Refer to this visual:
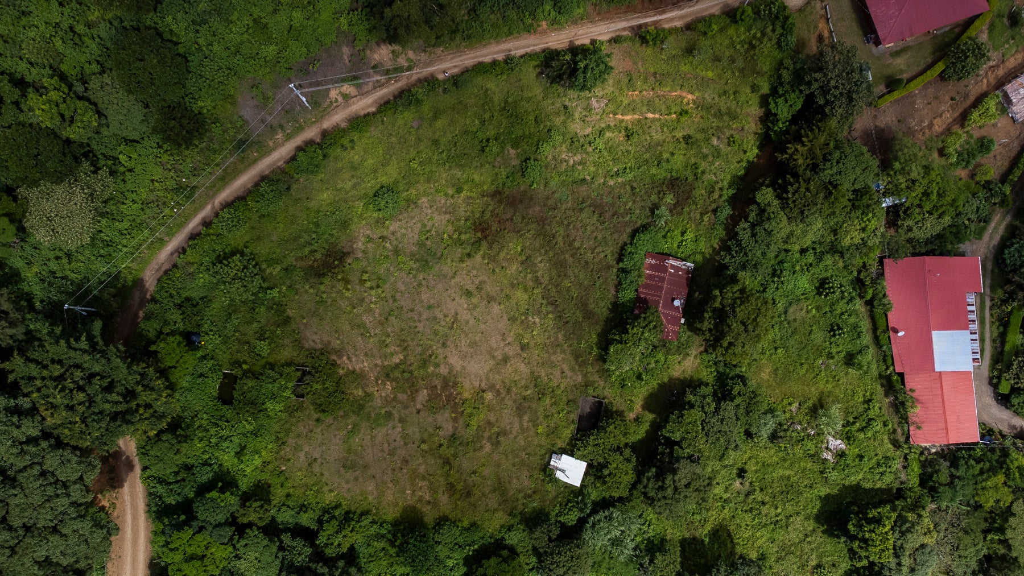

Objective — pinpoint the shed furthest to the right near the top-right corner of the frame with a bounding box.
[996,74,1024,121]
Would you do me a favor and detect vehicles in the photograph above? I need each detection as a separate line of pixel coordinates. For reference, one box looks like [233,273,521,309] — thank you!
[861,34,882,50]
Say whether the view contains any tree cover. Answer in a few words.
Yes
